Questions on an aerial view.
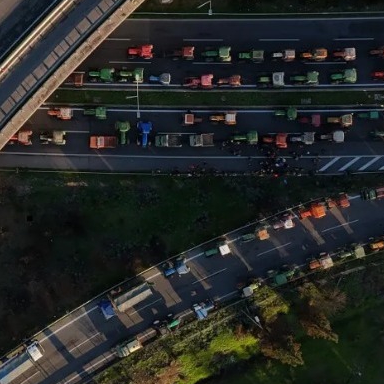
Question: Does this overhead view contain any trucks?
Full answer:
Yes, the image includes a truck.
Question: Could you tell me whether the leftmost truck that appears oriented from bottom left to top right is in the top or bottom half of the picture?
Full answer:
Seen from above, the leftmost truck that appears oriented from bottom left to top right lies in the bottom half of the view.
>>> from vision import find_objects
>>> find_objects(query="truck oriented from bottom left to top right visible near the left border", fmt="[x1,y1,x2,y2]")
[0,344,52,384]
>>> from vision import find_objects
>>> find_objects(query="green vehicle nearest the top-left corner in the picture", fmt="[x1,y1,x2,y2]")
[84,67,113,83]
